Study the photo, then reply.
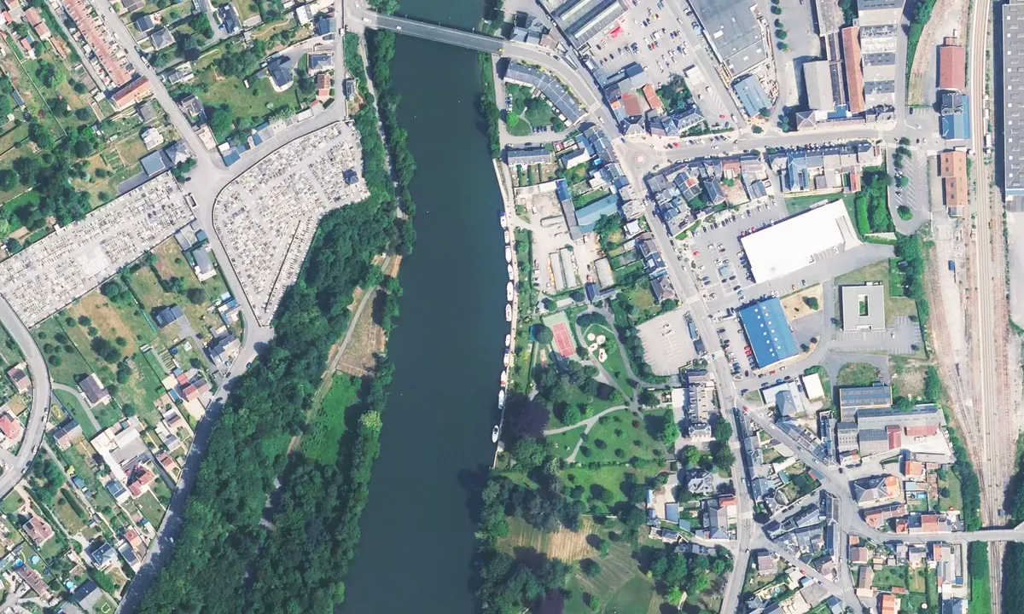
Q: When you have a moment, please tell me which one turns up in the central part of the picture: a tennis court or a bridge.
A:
tennis court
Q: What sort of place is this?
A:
residential area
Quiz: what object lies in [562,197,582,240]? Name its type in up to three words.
building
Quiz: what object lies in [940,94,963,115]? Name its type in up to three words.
house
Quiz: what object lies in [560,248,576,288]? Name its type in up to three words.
building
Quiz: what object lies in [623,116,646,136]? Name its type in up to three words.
house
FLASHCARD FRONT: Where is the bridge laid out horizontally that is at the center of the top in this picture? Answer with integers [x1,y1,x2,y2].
[373,12,507,56]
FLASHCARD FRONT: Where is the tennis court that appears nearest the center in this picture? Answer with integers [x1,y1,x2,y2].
[542,312,579,359]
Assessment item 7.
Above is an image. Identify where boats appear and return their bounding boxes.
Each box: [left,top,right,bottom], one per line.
[504,230,509,243]
[499,210,506,228]
[500,371,506,388]
[492,425,499,443]
[506,281,514,301]
[498,390,504,409]
[505,303,511,320]
[504,245,512,262]
[505,334,510,347]
[504,349,510,366]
